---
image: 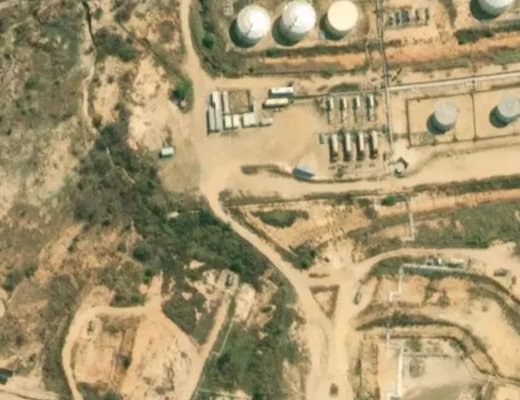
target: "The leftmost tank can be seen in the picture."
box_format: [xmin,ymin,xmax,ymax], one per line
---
[236,6,270,48]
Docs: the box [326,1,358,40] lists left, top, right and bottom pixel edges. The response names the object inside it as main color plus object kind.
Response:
white storage tank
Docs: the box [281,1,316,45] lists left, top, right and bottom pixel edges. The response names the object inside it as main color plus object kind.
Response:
white storage tank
